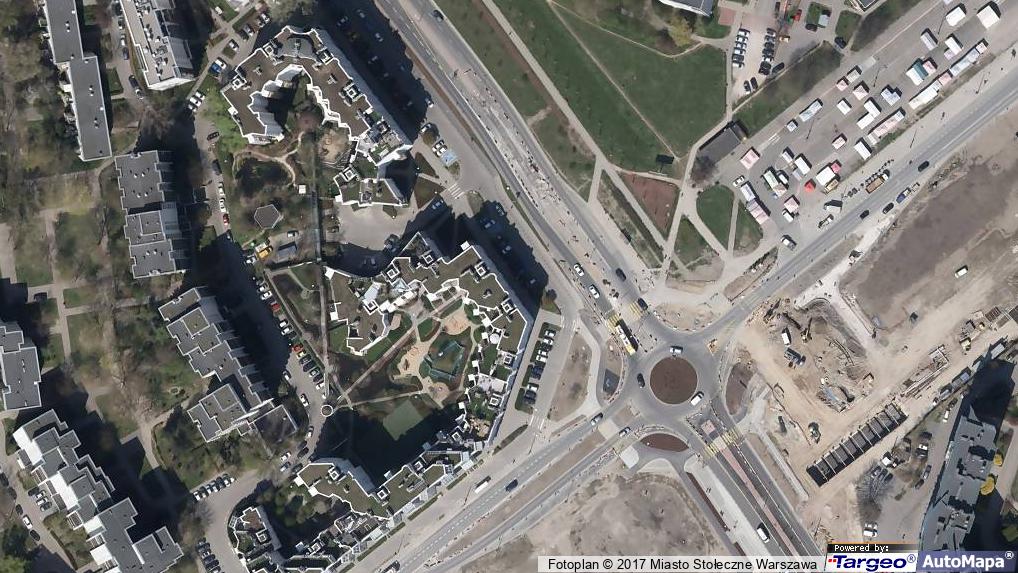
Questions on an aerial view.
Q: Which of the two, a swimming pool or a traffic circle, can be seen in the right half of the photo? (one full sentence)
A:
The one visible in the right half of the photo is a traffic circle.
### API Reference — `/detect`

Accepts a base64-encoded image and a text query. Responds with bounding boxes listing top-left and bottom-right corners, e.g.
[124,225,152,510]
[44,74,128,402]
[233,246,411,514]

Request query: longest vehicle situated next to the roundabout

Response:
[615,322,635,352]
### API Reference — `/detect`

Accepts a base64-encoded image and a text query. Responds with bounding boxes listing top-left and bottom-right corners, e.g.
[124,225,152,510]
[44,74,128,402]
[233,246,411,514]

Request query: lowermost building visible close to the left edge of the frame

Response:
[14,402,196,573]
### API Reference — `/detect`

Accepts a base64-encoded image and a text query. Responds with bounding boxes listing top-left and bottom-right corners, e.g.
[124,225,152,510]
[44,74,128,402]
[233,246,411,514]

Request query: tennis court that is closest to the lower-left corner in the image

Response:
[383,400,424,441]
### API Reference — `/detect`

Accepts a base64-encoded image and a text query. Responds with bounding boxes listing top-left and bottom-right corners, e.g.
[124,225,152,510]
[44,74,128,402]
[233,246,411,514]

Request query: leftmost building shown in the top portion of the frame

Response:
[44,0,122,161]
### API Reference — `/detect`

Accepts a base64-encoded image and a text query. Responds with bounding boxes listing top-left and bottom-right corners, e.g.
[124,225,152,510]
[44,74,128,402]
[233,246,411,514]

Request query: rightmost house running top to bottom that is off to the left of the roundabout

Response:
[455,298,529,444]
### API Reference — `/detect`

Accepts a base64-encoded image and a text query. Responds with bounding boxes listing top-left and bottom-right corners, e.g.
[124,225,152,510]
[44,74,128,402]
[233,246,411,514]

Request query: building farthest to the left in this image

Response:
[0,320,57,410]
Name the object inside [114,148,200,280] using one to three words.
building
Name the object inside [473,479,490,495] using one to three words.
vehicle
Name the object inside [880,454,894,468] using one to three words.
vehicle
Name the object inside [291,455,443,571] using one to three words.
house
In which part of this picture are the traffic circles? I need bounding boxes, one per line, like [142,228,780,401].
[626,333,721,427]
